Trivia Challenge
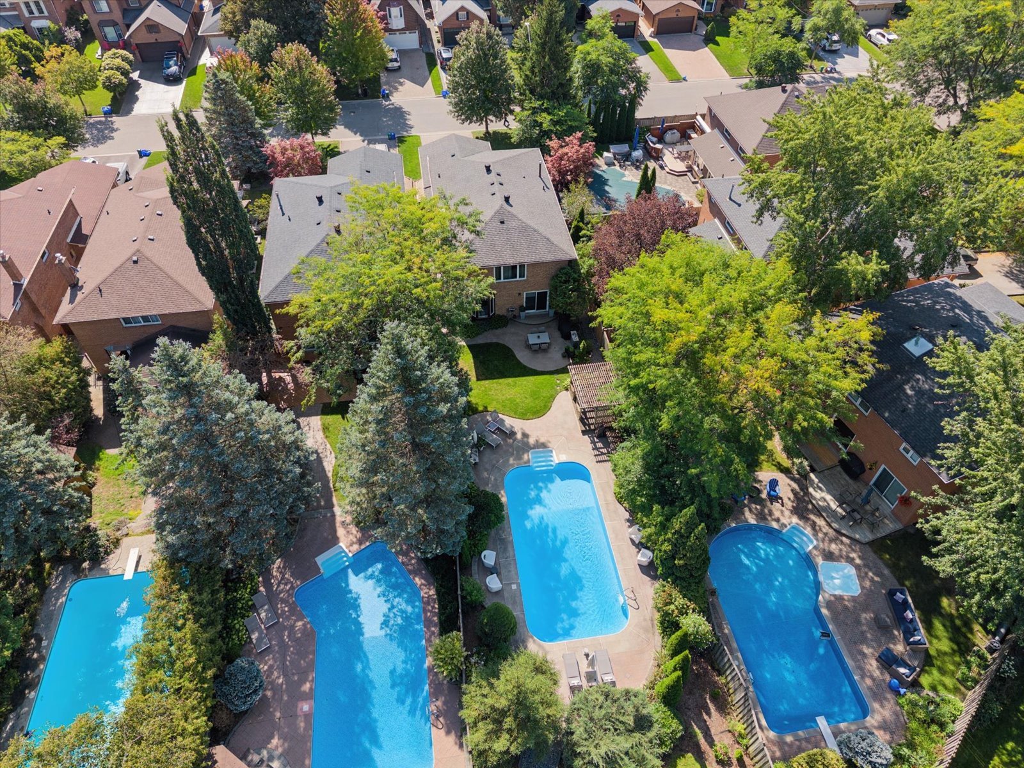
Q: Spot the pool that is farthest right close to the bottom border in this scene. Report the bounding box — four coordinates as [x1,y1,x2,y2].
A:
[709,517,879,745]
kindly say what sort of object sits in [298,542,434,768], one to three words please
swimming pool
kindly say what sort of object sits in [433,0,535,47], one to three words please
house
